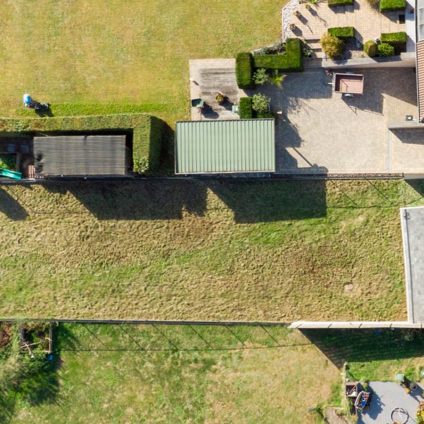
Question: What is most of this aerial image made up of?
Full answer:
Most of the picture is covered by grass.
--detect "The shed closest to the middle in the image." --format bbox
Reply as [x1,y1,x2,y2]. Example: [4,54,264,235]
[174,118,278,175]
